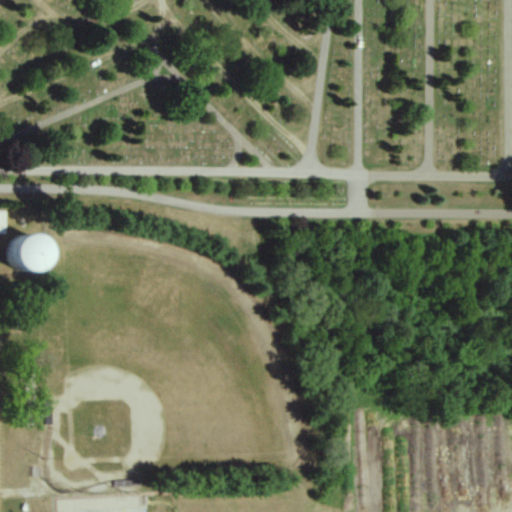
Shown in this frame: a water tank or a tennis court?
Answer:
water tank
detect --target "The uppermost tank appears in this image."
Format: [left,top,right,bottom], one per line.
[8,232,60,274]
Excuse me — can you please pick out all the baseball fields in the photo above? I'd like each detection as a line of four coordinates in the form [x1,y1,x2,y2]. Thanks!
[48,230,303,492]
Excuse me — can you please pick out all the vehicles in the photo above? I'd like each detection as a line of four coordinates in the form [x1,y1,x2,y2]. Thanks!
[359,37,364,48]
[93,59,104,66]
